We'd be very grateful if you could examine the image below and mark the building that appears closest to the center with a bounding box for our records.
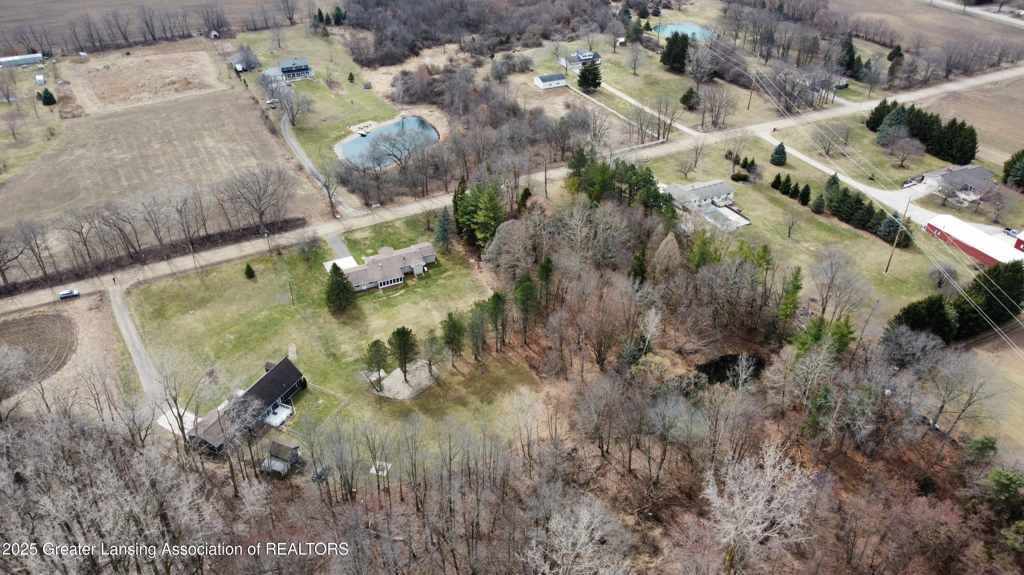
[343,242,437,291]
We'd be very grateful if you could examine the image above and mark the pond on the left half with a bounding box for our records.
[342,116,440,169]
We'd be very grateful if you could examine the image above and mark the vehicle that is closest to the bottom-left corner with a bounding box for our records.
[56,288,81,300]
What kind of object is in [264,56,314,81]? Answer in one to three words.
house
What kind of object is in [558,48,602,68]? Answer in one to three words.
house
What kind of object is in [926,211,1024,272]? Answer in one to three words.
barn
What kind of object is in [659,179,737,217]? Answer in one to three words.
building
